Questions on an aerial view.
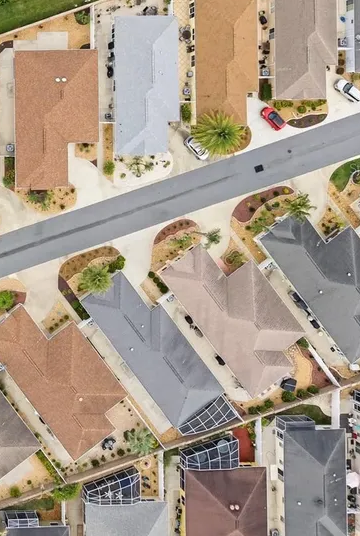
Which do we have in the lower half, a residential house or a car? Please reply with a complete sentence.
It is a residential house that can be seen in the lower half.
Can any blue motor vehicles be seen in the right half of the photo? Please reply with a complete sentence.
No, I see no blue motor vehicle in the right half of the photo.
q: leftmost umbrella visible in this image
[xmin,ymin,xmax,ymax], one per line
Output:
[279,377,298,392]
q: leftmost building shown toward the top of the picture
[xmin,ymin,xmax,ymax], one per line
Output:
[14,49,99,188]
